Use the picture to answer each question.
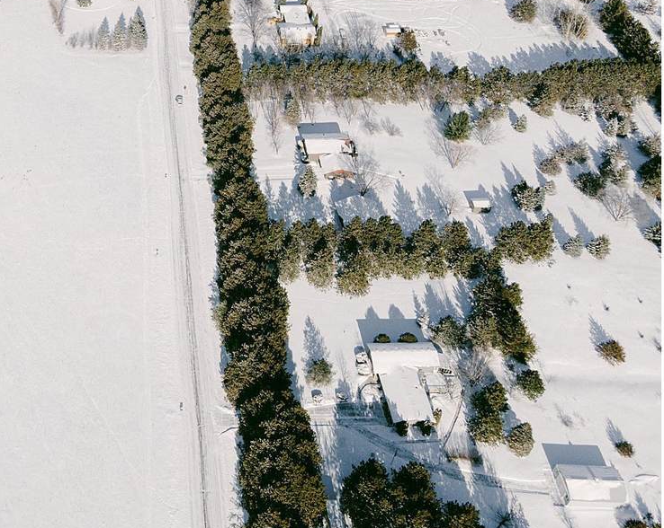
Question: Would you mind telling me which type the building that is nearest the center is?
residential house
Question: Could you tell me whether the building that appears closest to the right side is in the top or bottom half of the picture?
bottom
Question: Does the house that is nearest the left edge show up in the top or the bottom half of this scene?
top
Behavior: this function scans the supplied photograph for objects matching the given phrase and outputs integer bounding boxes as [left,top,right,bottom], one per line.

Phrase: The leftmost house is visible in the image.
[268,2,318,52]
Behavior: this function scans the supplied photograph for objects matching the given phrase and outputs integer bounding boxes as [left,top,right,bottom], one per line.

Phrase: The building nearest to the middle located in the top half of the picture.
[302,130,354,184]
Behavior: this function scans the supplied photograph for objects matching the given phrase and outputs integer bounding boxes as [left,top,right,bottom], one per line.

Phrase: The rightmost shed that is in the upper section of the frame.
[462,193,494,213]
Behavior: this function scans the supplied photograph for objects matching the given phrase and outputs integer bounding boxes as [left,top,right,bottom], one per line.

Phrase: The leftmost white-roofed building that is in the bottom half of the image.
[365,343,452,431]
